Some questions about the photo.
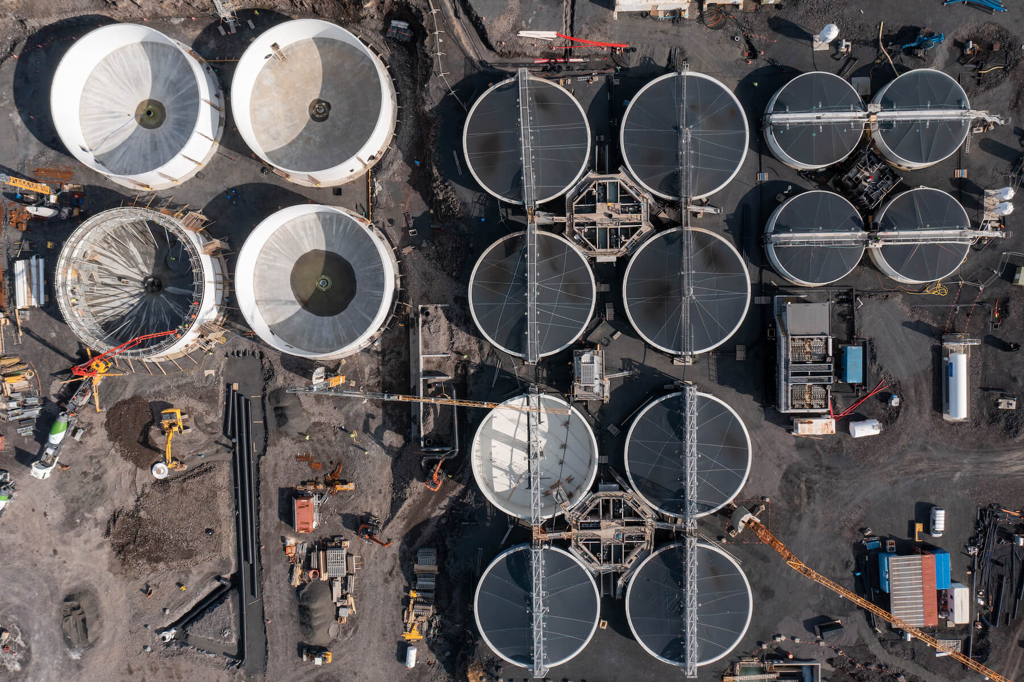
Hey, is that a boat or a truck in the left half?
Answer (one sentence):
What appears in the left half is a truck.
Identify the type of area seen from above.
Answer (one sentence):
It's an industrial area.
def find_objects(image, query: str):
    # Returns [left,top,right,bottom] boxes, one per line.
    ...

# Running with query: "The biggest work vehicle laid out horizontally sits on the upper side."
[868,34,936,68]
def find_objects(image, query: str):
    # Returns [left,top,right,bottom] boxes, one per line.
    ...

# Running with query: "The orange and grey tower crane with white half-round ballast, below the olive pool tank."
[287,365,571,414]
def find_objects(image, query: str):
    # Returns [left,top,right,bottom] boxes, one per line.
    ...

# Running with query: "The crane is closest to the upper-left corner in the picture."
[0,168,64,219]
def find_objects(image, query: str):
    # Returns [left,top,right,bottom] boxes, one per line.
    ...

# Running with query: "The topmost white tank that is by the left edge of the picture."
[49,23,227,193]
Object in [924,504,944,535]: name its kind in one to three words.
vehicle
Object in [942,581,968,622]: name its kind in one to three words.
building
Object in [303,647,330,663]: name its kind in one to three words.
work vehicle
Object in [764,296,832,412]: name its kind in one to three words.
building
